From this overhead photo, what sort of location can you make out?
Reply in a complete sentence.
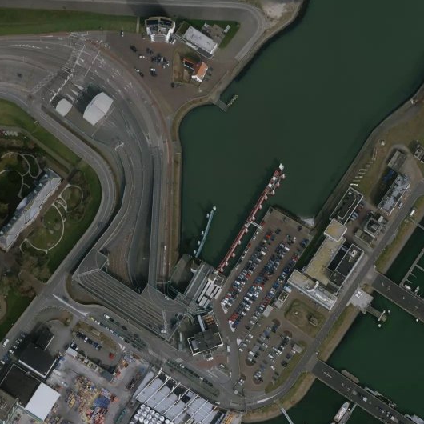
What you see here is a port.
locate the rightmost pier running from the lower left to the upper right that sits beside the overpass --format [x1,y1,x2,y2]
[217,165,285,271]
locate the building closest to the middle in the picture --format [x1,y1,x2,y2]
[197,274,225,310]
